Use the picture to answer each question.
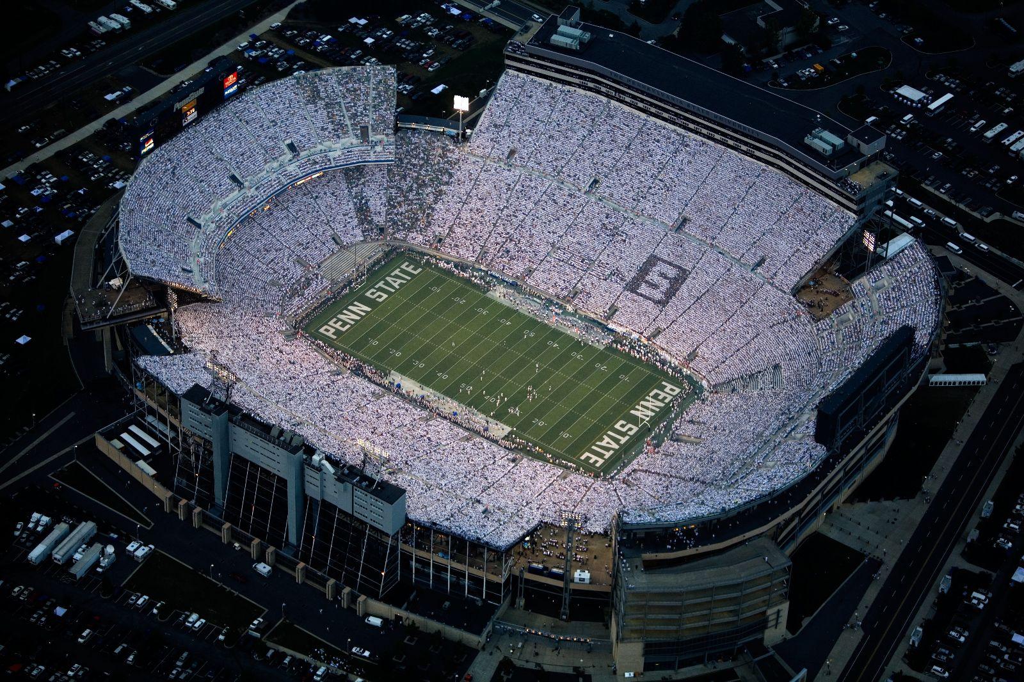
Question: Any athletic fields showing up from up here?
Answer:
Yes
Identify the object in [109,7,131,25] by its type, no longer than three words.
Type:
camper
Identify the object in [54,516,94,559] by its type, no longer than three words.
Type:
trailer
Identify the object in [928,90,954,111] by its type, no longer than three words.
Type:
bus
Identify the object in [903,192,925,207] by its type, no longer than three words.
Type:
vehicle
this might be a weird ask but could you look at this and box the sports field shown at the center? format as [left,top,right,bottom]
[305,254,693,476]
